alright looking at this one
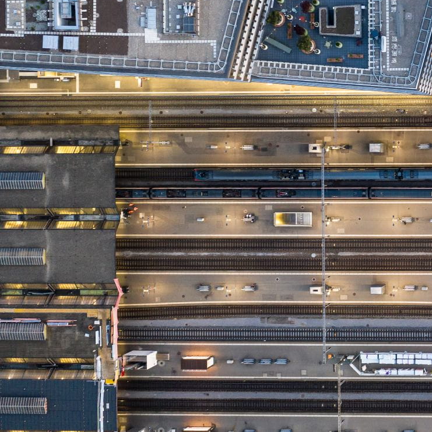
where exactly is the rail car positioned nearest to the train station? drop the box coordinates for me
[117,187,155,199]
